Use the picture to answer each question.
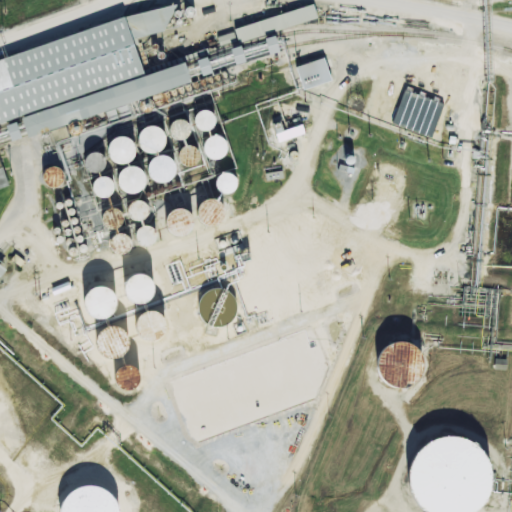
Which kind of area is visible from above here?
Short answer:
industrial area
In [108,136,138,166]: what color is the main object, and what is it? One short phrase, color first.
white storage tank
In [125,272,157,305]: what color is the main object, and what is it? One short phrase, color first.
white storage tank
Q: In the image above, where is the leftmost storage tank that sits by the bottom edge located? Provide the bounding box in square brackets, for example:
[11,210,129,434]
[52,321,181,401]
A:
[60,483,120,512]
